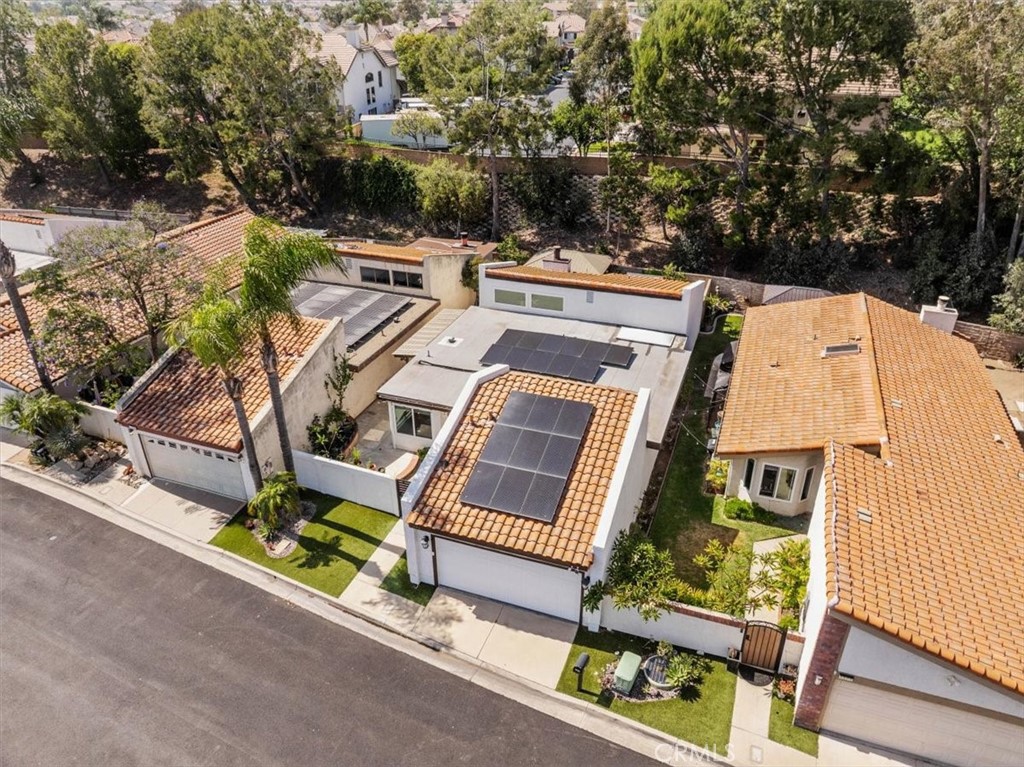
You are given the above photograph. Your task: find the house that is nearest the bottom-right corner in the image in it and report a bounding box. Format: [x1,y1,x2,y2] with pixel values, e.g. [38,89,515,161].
[713,283,1024,767]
